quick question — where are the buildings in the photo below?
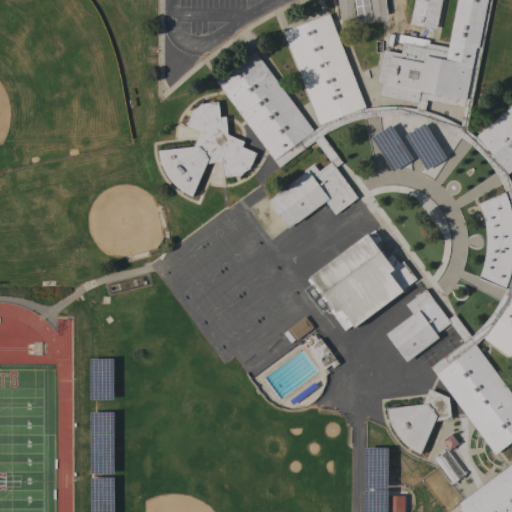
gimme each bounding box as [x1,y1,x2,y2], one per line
[222,56,314,159]
[270,162,359,227]
[340,0,355,20]
[462,466,512,512]
[439,346,512,454]
[380,0,490,110]
[388,290,452,362]
[356,0,372,16]
[159,101,255,196]
[481,193,512,287]
[388,390,452,455]
[284,12,366,126]
[304,332,340,368]
[436,450,468,486]
[285,318,314,343]
[374,0,387,18]
[394,496,406,512]
[309,230,418,330]
[486,300,512,358]
[412,0,444,28]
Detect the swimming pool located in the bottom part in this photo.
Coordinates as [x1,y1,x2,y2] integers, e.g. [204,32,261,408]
[255,338,331,408]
